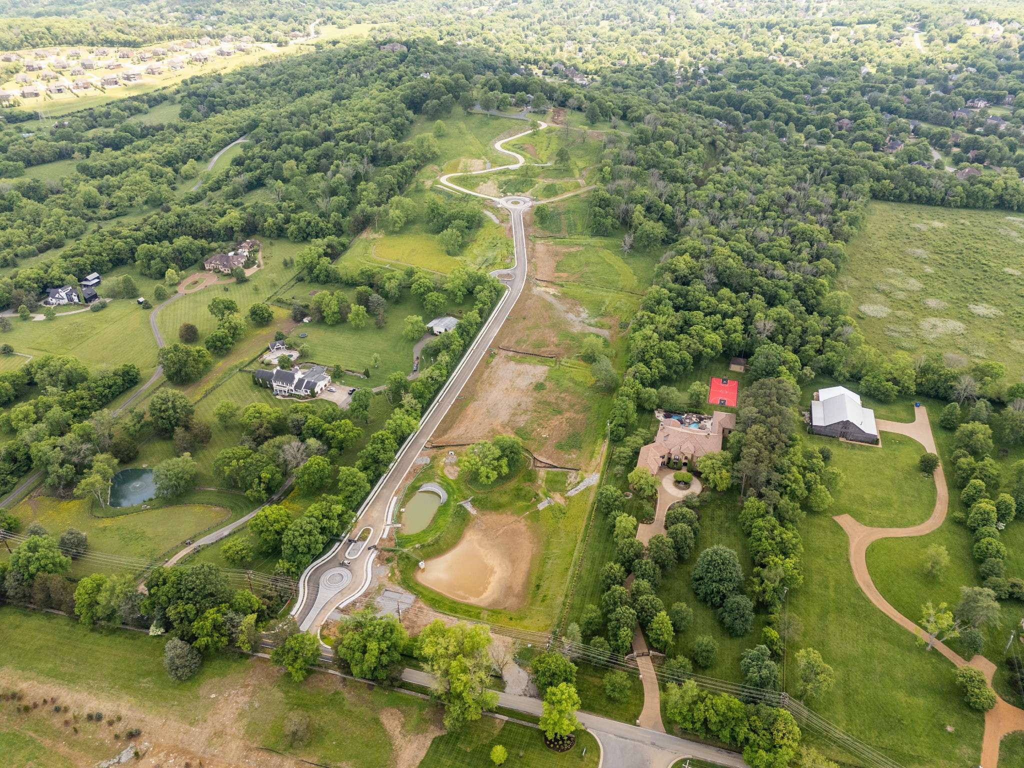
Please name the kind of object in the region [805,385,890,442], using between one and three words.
barn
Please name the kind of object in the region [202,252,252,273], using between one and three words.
house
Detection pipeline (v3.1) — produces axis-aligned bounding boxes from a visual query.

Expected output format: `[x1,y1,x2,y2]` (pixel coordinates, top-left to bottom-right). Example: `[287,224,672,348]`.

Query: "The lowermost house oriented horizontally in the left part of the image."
[253,363,341,398]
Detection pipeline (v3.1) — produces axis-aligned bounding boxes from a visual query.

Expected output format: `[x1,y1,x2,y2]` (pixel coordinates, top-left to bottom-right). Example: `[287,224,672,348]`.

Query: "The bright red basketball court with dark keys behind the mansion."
[708,377,739,407]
